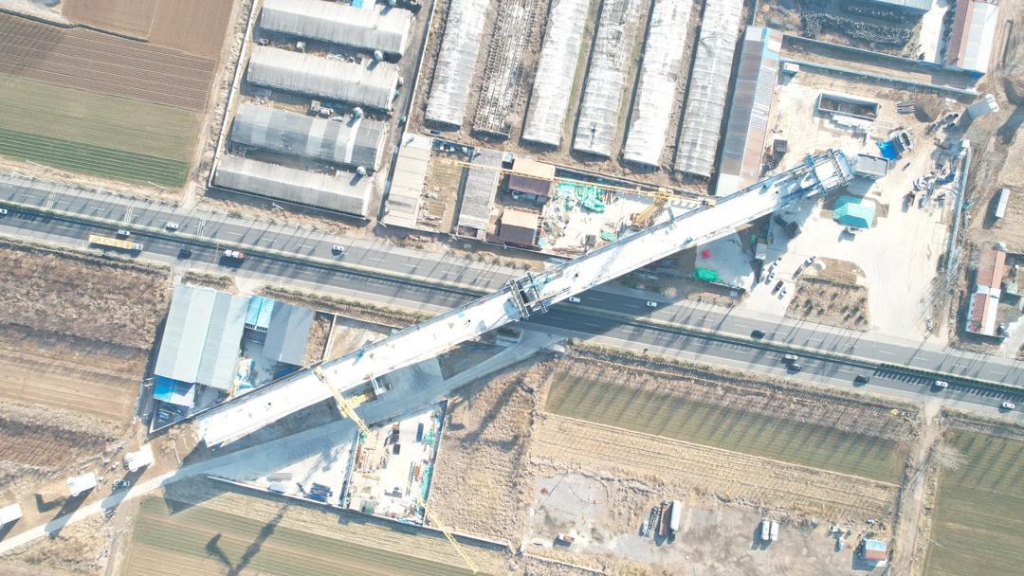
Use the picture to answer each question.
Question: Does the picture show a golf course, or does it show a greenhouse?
greenhouse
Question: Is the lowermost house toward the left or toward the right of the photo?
right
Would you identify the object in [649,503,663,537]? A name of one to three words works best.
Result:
vehicle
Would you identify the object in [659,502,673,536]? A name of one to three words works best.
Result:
vehicle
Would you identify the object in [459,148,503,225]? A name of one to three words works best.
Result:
building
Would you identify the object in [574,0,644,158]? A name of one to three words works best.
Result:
greenhouse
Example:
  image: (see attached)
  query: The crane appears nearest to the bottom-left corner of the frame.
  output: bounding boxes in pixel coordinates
[311,367,479,574]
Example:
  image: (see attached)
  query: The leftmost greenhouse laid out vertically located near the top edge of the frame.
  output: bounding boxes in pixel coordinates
[425,0,489,127]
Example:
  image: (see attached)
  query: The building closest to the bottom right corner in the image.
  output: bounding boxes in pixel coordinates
[857,537,887,559]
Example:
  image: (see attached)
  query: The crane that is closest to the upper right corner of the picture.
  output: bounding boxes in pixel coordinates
[455,159,714,220]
